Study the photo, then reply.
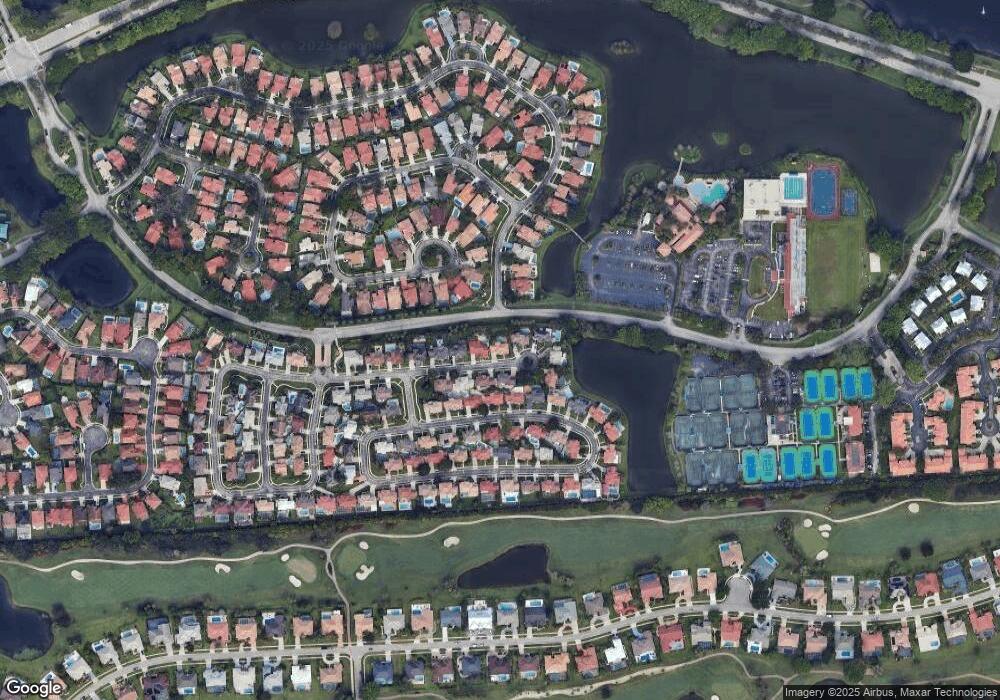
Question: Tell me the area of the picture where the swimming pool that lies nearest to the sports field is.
top right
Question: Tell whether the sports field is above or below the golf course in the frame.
above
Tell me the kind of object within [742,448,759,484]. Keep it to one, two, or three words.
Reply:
tennis court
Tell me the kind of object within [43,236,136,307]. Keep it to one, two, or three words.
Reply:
pond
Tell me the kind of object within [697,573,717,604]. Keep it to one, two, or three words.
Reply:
house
